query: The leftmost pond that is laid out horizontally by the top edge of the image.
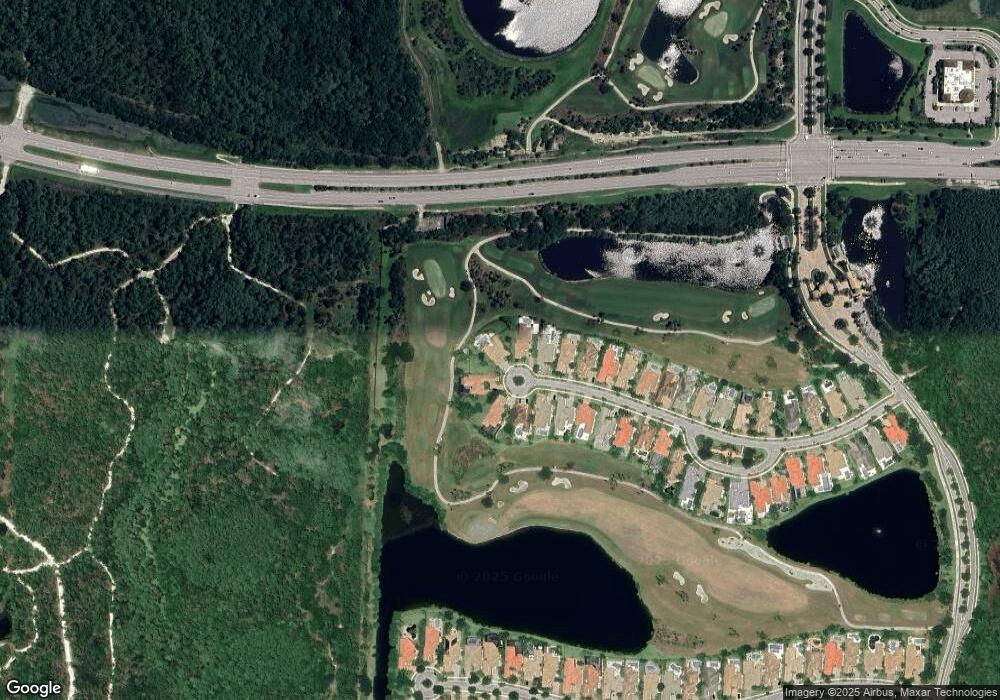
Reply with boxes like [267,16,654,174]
[463,0,600,57]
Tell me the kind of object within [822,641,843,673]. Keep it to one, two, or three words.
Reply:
house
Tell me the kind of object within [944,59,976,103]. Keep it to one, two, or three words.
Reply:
building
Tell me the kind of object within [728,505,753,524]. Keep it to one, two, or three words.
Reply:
swimming pool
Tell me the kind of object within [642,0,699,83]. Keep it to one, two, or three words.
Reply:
pond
